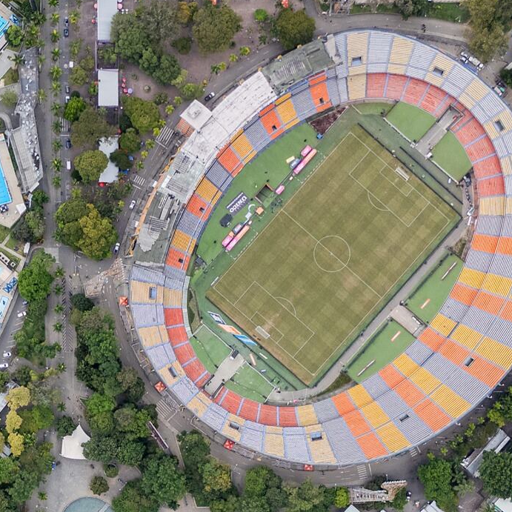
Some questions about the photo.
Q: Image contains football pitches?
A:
Yes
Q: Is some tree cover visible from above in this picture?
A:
Yes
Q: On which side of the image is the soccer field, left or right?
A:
right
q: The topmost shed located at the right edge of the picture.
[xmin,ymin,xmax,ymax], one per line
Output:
[461,430,510,476]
